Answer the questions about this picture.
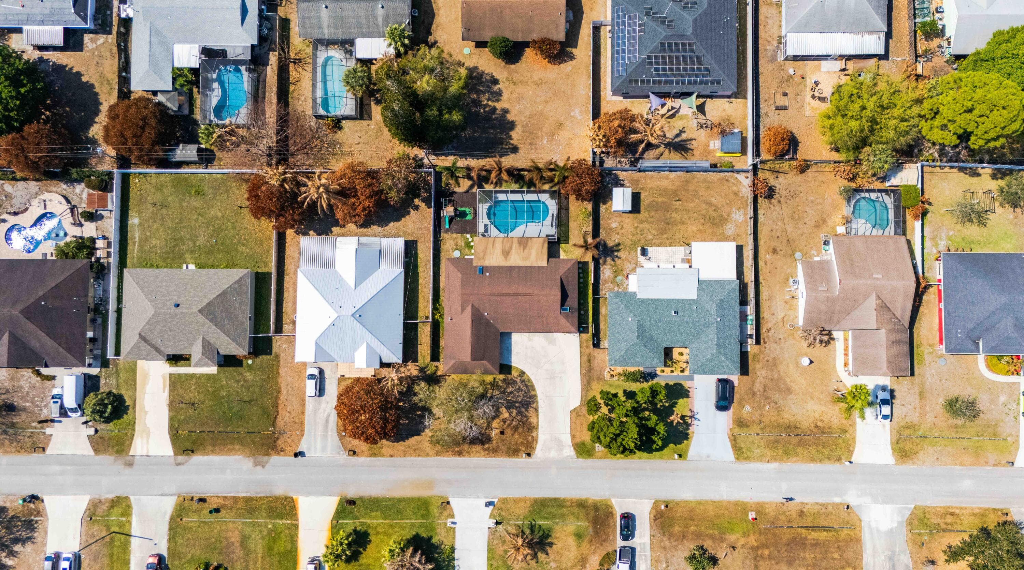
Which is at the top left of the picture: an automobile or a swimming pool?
swimming pool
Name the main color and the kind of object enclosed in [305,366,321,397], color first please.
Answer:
white car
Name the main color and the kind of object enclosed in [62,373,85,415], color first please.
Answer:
white vehicle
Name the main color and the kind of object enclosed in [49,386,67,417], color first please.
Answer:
white car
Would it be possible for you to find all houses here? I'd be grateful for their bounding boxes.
[297,0,413,59]
[443,237,578,375]
[780,0,888,60]
[461,0,566,45]
[295,236,406,369]
[937,252,1024,355]
[610,0,738,94]
[607,242,741,376]
[0,0,99,50]
[121,268,254,368]
[795,235,916,377]
[111,0,262,92]
[0,259,97,369]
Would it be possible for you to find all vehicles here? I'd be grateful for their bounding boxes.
[64,550,80,570]
[618,511,633,541]
[44,550,62,570]
[145,552,163,570]
[62,373,85,415]
[305,366,321,397]
[307,559,321,570]
[616,544,631,570]
[876,390,893,423]
[49,386,67,417]
[715,377,731,411]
